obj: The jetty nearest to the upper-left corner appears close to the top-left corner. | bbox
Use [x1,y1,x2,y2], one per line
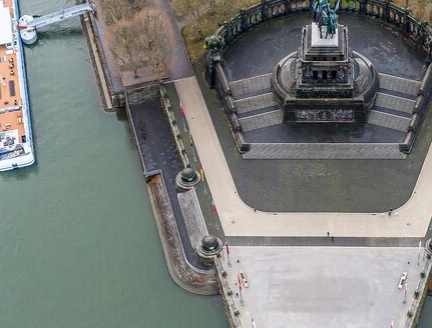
[18,16,40,39]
